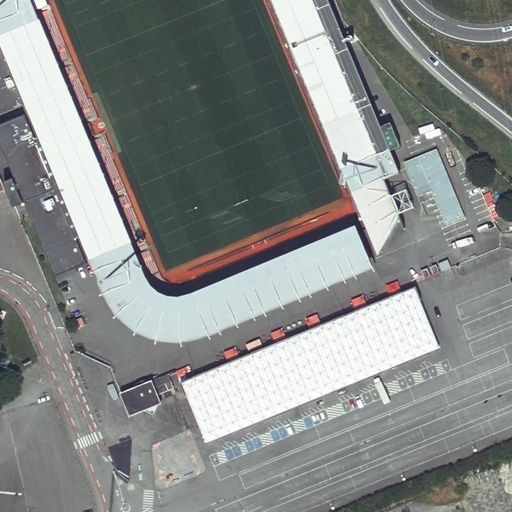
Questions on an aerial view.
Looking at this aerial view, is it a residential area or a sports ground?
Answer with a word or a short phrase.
sports ground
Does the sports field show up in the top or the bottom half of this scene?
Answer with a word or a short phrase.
top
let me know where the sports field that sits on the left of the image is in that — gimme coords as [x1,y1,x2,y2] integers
[58,0,343,271]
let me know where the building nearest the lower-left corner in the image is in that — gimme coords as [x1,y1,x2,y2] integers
[108,438,132,484]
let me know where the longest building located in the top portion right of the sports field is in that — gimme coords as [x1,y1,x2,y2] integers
[404,149,466,225]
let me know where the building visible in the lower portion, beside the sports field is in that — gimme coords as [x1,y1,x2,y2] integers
[181,286,440,446]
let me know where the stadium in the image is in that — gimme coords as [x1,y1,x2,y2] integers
[0,0,400,348]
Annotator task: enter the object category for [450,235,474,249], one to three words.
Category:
vehicle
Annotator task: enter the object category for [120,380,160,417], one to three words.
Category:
building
